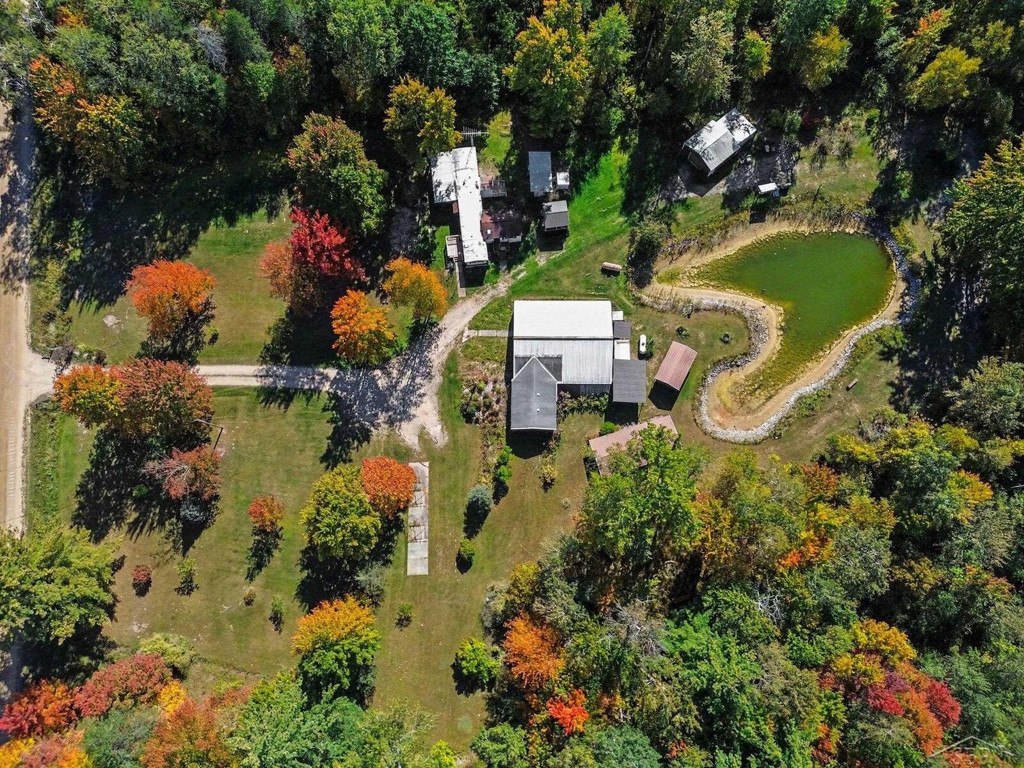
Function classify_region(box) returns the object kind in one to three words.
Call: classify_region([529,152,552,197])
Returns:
shed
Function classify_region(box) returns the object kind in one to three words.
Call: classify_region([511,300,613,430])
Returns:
house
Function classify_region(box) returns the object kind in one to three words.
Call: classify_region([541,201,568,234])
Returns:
shed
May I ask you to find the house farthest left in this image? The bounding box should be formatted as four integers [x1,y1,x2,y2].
[431,146,488,266]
